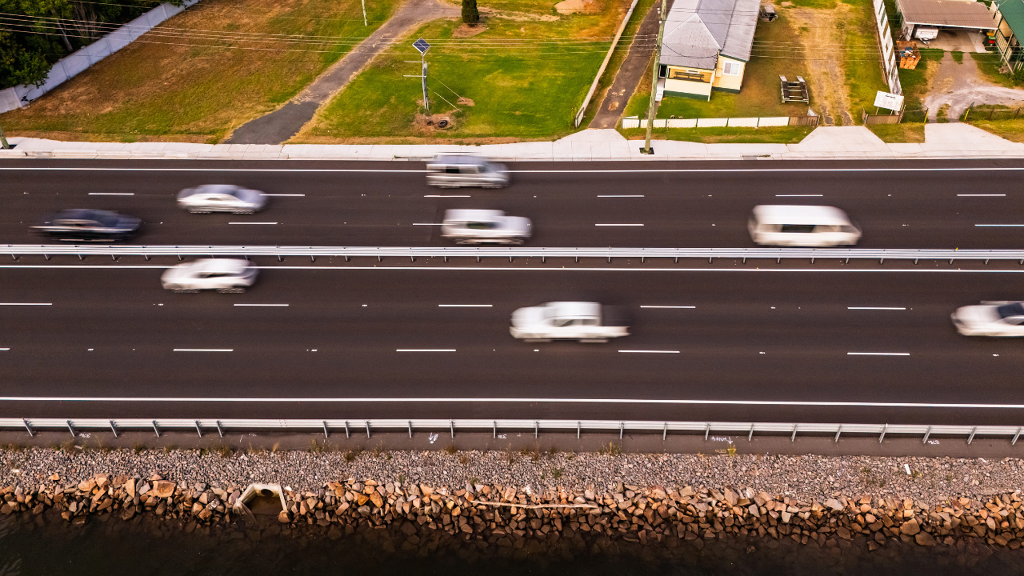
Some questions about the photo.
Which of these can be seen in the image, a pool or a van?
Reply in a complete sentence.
The one in the frame is a van.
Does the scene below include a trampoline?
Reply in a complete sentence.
No, there isn't any trampoline down there.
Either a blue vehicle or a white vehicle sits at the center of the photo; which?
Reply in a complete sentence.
The one visible at the center of the photo is a white vehicle.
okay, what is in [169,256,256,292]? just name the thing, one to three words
car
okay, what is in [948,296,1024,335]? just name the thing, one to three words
car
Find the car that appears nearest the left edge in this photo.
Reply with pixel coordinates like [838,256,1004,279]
[40,207,136,239]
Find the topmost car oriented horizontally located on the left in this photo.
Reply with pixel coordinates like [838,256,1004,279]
[182,181,266,212]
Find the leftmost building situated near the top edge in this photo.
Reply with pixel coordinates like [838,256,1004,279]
[655,0,757,102]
